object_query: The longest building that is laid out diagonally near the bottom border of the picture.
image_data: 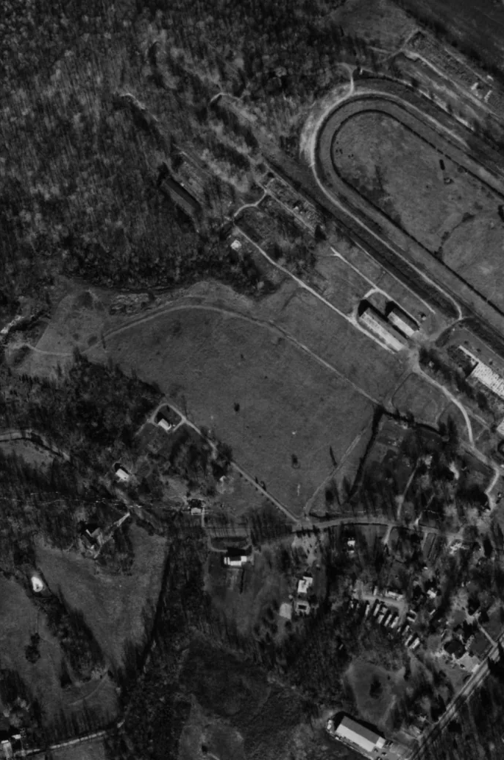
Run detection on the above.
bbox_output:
[335,716,379,753]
